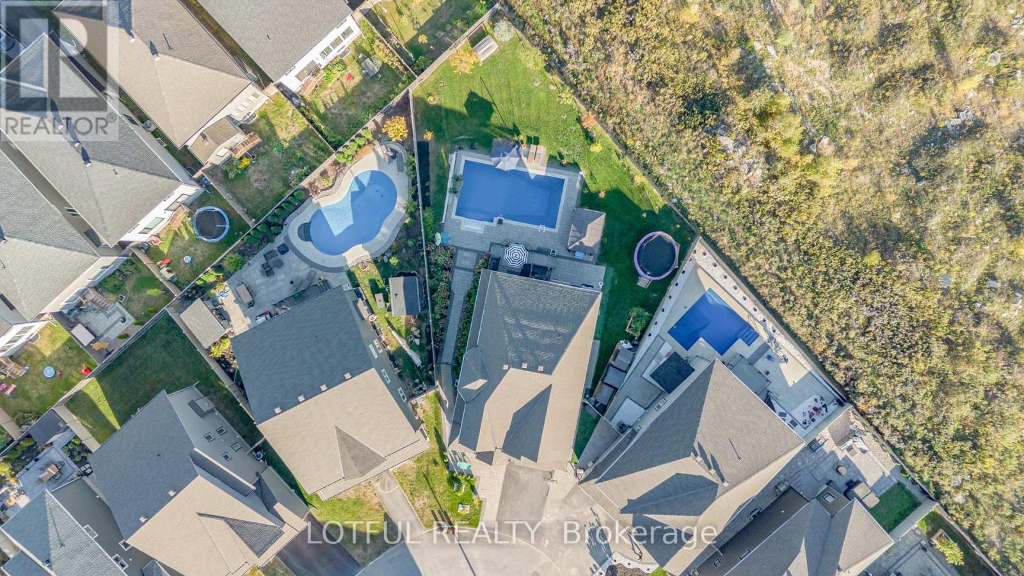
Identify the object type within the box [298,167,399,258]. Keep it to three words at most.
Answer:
swimming pool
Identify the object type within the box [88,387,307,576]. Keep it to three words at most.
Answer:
house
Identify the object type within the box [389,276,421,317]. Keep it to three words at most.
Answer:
shed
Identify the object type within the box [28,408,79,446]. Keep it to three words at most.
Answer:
shed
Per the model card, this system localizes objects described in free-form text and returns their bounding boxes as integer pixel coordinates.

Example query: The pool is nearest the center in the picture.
[451,155,569,233]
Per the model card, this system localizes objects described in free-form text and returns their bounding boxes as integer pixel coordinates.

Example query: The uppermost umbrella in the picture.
[490,142,520,172]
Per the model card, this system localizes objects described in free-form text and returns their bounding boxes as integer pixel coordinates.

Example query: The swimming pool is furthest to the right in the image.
[665,286,761,357]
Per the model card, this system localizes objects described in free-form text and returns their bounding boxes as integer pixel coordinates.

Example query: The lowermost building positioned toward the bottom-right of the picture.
[688,485,894,576]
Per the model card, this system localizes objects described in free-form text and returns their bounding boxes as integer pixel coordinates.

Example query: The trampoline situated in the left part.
[185,203,231,243]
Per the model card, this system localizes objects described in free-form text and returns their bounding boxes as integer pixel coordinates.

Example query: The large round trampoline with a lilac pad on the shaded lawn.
[633,232,681,278]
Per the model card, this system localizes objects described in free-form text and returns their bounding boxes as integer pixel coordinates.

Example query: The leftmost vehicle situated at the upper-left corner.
[0,28,24,63]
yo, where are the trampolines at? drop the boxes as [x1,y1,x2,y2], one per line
[185,203,231,243]
[633,232,681,278]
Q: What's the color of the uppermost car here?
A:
blue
